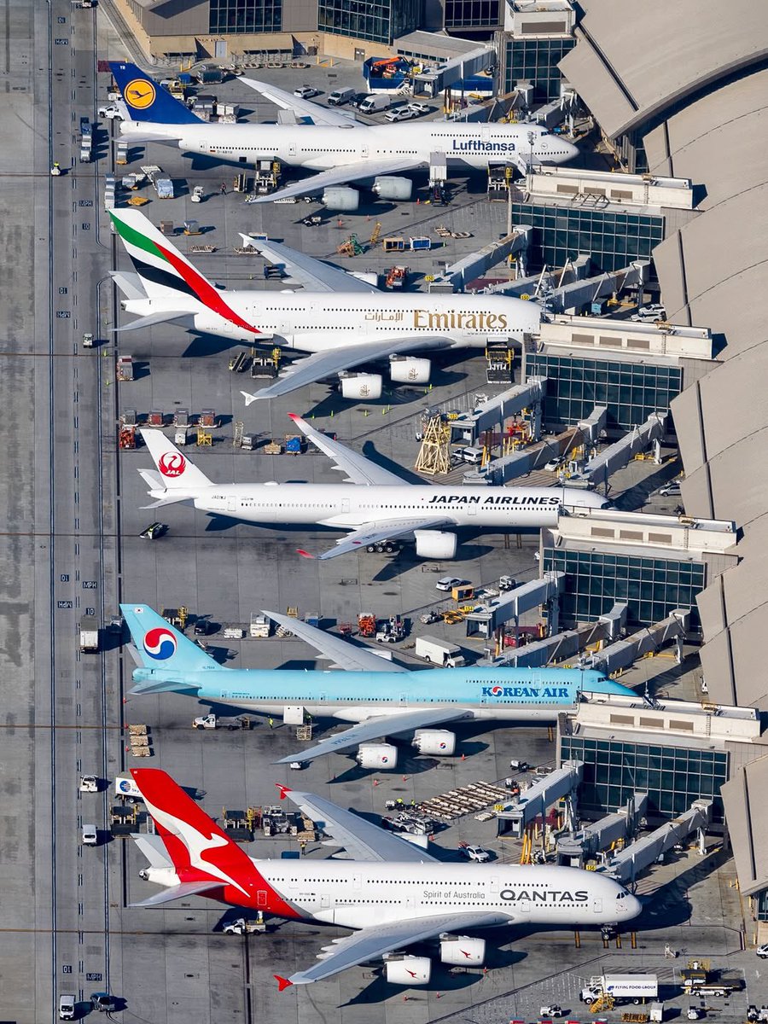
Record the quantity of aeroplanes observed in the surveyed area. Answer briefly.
5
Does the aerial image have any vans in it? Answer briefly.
Yes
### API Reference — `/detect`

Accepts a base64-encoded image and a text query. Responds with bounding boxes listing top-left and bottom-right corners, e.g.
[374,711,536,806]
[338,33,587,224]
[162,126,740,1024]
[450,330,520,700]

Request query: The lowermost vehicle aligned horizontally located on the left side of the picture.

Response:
[83,992,124,1009]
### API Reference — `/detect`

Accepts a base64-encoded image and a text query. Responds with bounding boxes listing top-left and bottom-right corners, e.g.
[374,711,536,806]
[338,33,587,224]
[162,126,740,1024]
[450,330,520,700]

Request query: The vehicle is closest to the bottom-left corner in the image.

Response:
[59,989,74,1019]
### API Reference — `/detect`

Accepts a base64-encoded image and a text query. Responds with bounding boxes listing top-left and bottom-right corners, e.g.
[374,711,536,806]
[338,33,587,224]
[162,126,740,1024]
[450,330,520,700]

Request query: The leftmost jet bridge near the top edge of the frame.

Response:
[410,46,486,120]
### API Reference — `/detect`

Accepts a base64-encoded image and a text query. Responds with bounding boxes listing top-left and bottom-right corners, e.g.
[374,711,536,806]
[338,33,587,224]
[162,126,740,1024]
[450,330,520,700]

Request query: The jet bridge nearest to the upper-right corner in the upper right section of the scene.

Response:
[530,106,601,163]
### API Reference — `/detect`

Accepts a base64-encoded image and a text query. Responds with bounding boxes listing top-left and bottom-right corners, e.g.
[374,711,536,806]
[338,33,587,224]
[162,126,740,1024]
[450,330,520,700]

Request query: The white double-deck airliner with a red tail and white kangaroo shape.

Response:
[130,769,639,990]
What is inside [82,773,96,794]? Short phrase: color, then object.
white vehicle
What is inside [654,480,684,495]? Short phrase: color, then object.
gray car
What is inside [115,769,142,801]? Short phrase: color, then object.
white truck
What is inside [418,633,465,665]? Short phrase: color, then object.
white van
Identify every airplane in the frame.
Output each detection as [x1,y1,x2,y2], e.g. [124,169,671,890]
[109,62,576,209]
[108,208,547,400]
[119,603,633,768]
[130,769,639,990]
[138,414,616,561]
